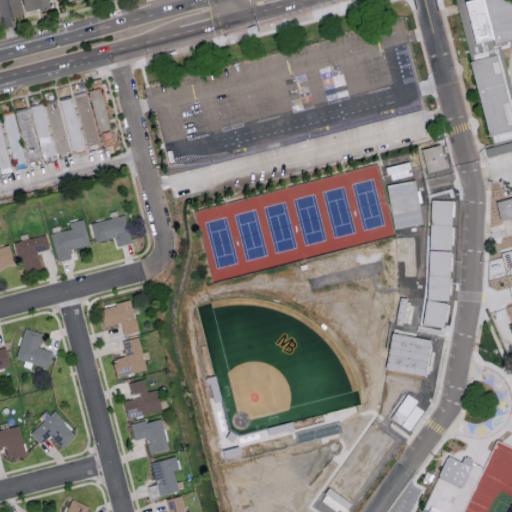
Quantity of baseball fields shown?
1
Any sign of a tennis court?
Yes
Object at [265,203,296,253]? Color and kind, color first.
blue tennis court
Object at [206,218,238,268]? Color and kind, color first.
blue tennis court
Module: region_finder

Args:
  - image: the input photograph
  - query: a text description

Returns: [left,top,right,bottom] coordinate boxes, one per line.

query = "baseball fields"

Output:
[198,299,360,434]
